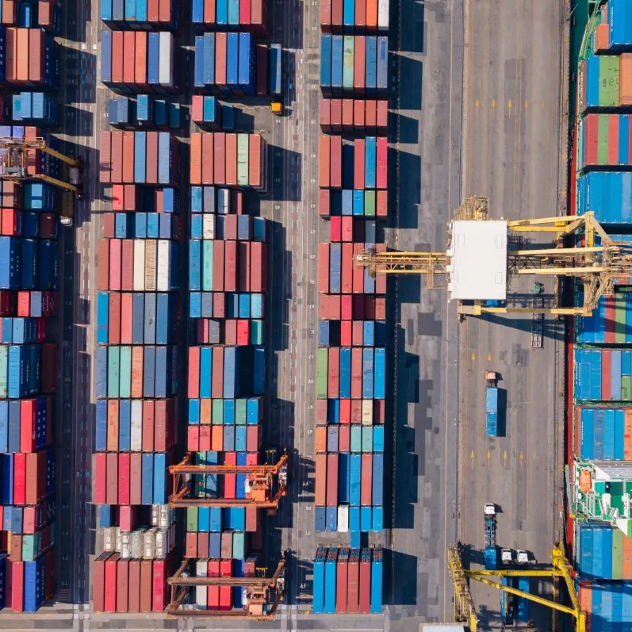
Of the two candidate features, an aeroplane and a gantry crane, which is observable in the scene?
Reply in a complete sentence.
Of the two, only a gantry crane appears.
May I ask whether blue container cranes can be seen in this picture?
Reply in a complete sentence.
No, this view has no blue container crane in it.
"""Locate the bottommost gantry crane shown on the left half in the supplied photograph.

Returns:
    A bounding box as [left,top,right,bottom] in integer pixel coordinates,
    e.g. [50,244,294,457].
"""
[167,545,289,619]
